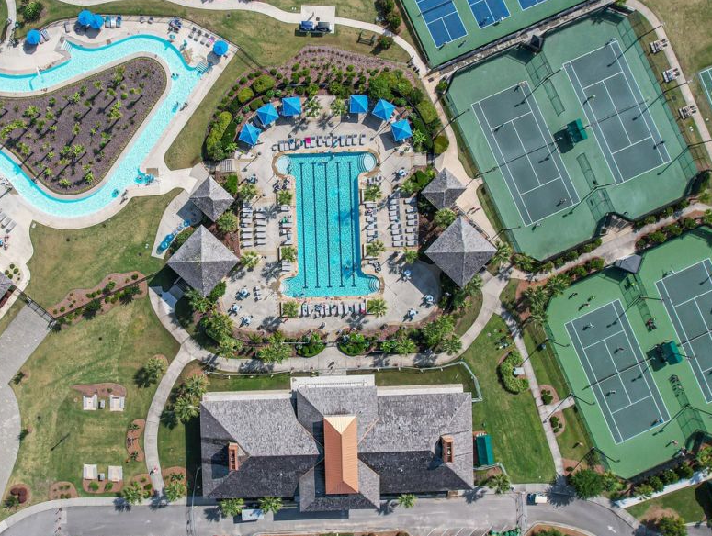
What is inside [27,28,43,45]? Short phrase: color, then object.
blue umbrella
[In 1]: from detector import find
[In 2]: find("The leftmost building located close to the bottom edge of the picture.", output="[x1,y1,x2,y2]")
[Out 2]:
[200,371,473,511]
